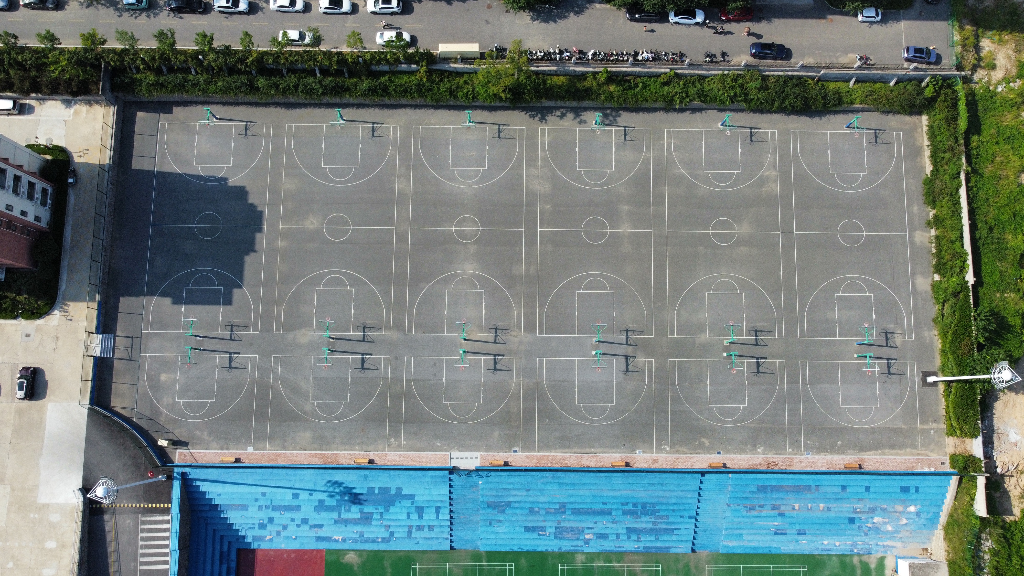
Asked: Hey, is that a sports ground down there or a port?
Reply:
sports ground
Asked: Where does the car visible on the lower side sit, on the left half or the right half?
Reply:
left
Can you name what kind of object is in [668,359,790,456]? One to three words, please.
basketball court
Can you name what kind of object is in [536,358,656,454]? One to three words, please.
basketball court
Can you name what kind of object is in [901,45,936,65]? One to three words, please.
car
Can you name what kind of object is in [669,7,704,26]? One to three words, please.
car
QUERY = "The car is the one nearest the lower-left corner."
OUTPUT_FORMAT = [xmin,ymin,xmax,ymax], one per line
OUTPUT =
[15,366,37,401]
